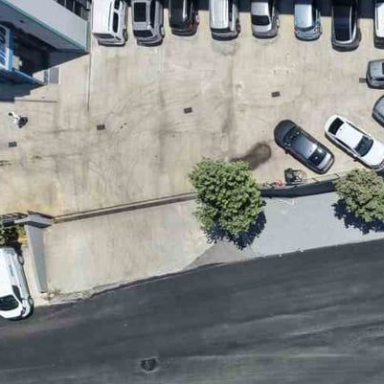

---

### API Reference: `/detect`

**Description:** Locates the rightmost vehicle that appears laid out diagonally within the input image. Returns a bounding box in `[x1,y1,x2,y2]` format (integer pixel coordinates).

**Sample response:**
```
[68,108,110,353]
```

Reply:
[323,112,384,170]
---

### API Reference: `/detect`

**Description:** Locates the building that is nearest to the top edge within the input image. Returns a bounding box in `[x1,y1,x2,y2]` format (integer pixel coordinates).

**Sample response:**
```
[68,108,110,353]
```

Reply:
[0,0,91,54]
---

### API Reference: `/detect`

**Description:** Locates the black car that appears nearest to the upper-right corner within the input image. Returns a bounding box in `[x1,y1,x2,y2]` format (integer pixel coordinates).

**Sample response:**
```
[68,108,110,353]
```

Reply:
[330,0,362,51]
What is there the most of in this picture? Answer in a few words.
paved ground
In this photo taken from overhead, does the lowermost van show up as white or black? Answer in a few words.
white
